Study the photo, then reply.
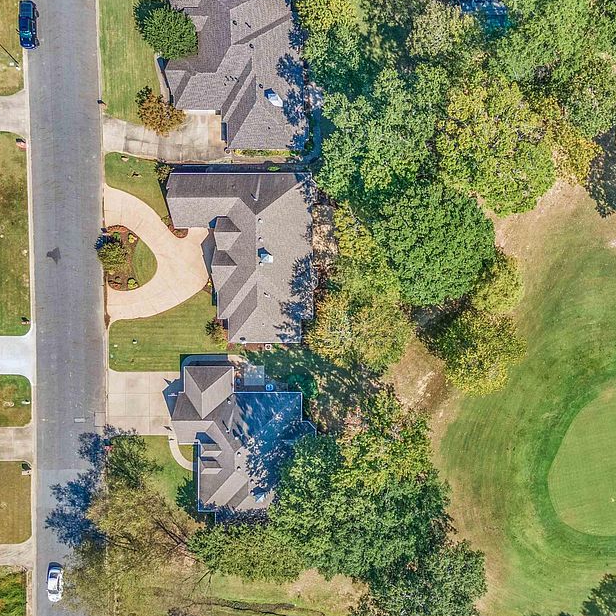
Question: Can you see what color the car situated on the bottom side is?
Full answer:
In this view, the car situated on the bottom side is white.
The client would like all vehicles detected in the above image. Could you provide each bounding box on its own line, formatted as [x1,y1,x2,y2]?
[14,0,37,48]
[42,565,63,604]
